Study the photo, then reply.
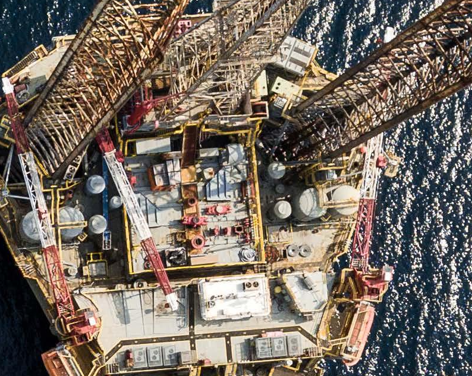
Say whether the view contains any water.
Yes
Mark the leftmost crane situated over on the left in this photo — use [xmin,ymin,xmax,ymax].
[0,73,101,347]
